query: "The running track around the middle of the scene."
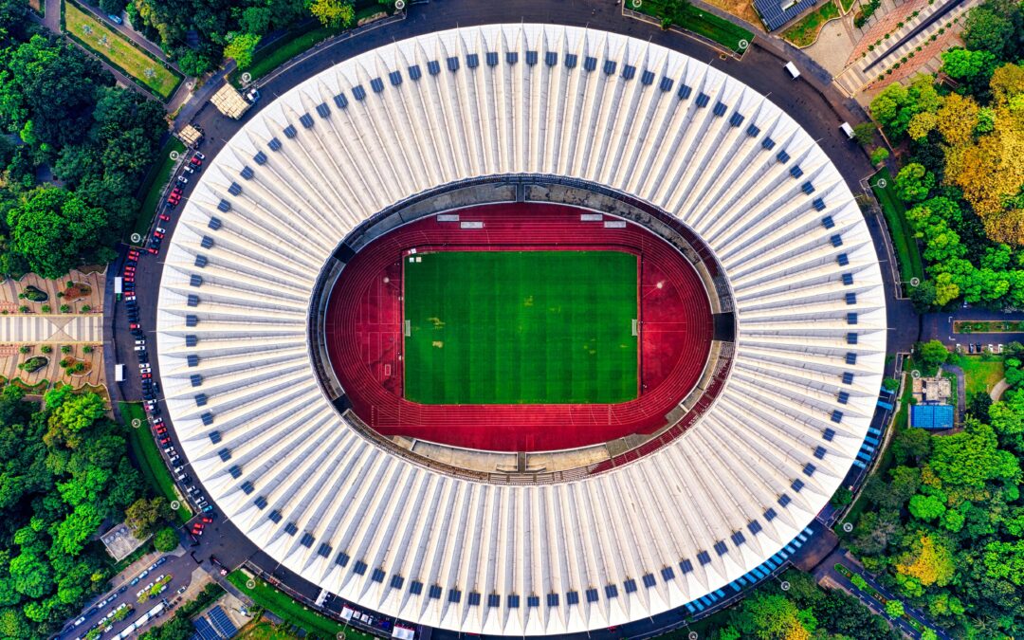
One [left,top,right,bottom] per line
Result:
[326,201,712,453]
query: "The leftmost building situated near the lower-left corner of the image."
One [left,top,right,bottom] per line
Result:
[99,519,156,562]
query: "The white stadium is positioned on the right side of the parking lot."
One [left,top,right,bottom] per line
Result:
[156,17,887,640]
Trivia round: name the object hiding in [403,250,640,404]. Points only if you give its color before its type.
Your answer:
green soccer field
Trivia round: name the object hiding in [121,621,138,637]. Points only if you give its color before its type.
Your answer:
white vehicle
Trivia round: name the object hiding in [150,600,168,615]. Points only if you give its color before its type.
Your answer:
white vehicle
